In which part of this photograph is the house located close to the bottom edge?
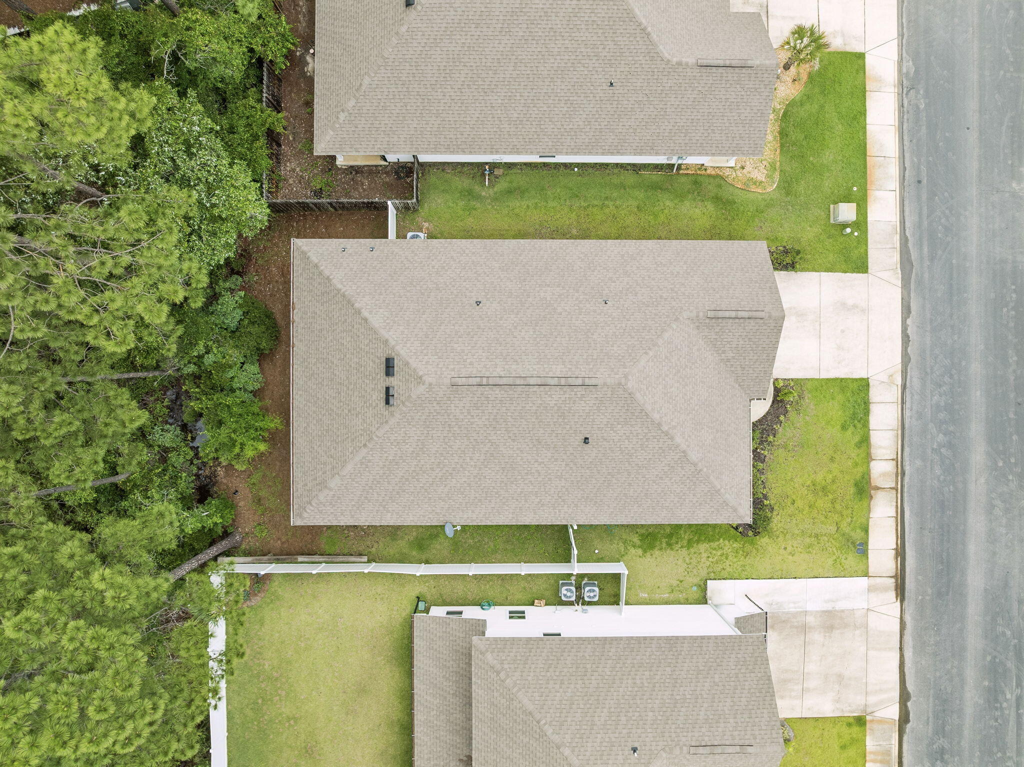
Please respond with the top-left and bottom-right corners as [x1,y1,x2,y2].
[412,594,784,767]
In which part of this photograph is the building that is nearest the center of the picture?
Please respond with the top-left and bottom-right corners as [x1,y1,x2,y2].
[291,237,783,527]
